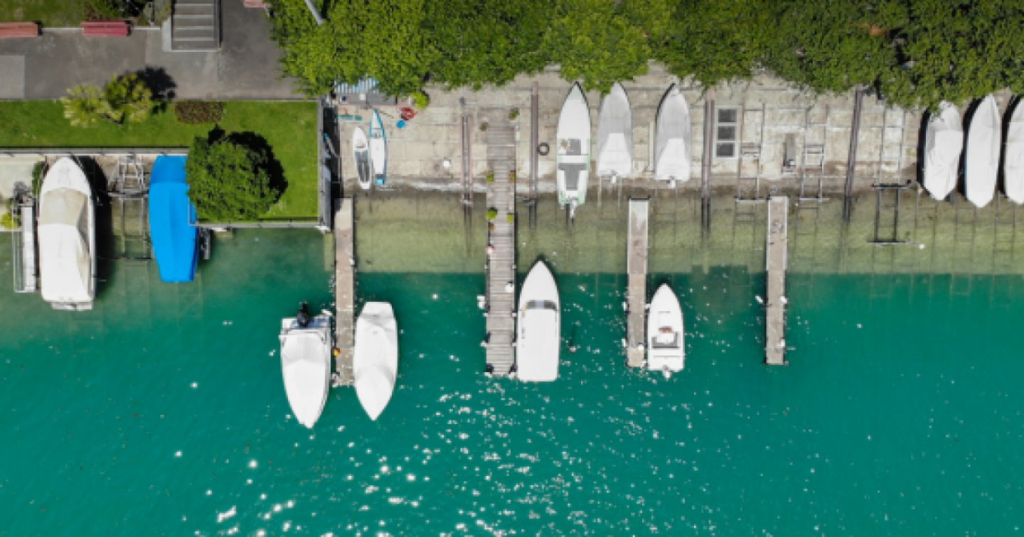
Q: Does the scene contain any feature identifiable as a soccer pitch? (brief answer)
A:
No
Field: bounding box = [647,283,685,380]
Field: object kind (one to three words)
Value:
boat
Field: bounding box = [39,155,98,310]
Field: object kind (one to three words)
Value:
boat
